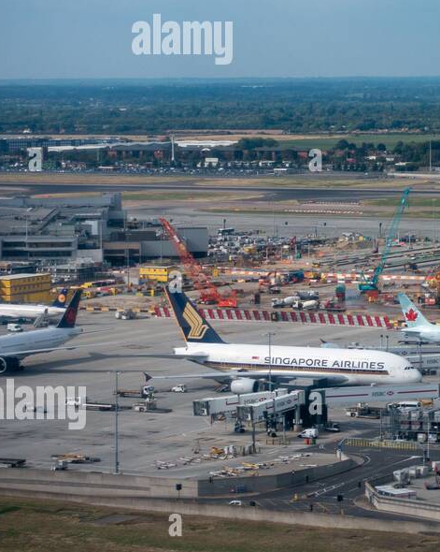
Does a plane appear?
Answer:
Yes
